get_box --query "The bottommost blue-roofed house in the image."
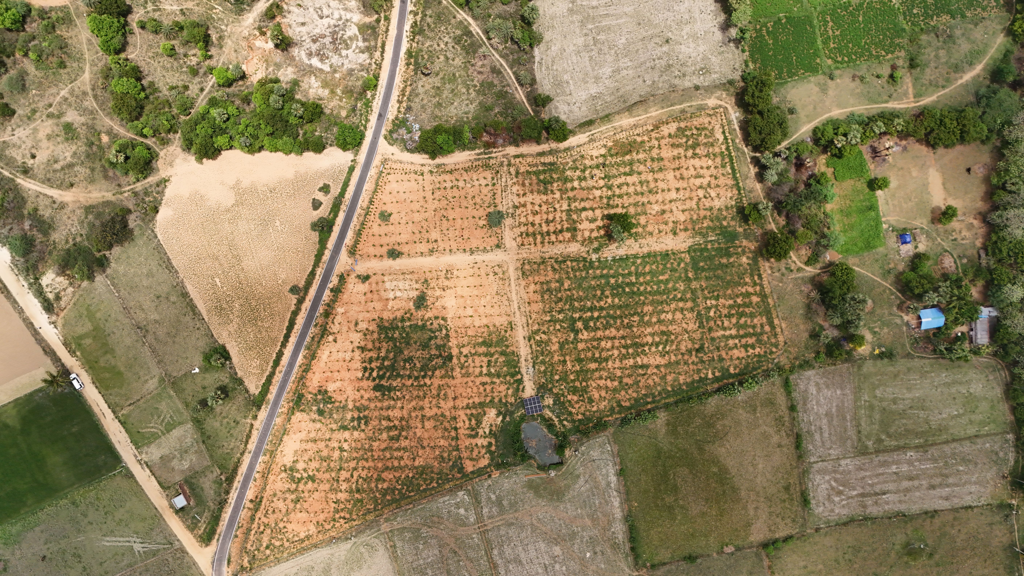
[912,308,945,330]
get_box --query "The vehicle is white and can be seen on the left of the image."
[68,374,83,390]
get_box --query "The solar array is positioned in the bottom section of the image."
[523,396,543,415]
